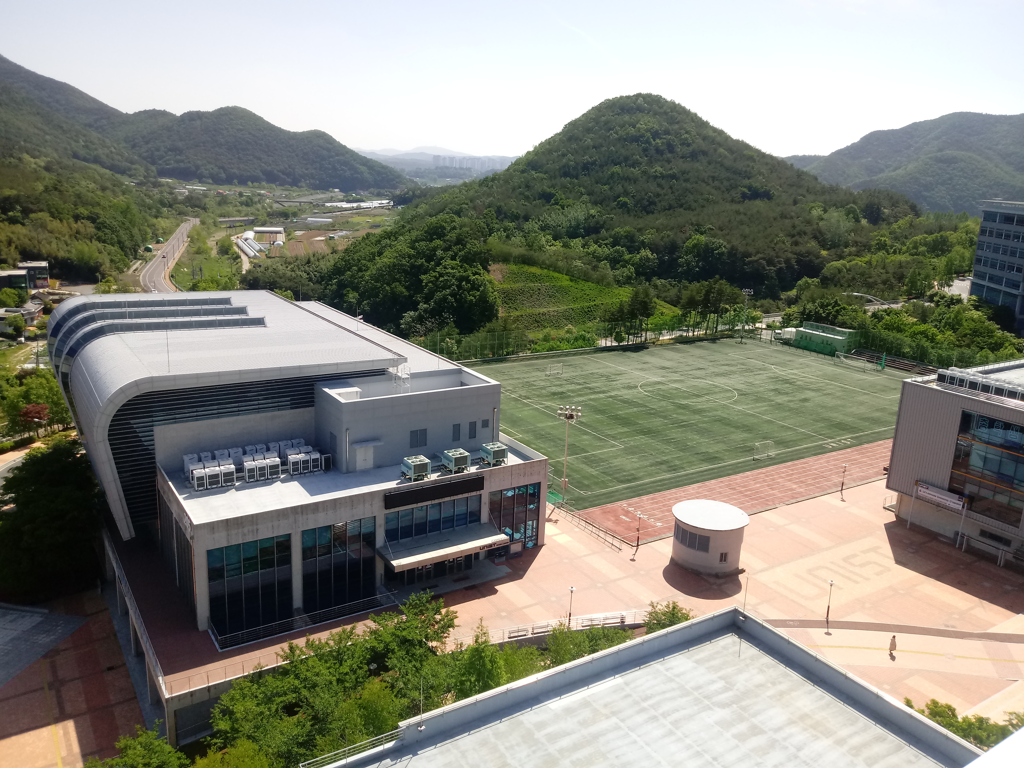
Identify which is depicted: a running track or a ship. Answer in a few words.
running track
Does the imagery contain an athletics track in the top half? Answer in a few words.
No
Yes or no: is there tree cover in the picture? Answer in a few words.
Yes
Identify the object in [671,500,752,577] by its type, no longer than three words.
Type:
building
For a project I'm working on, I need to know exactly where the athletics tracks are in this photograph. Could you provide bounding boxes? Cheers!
[569,436,892,546]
